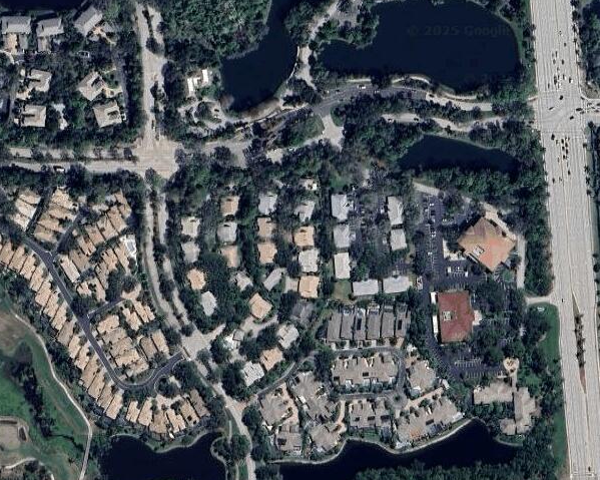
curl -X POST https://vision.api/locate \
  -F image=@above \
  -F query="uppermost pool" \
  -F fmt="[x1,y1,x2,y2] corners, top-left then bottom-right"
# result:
[124,237,142,262]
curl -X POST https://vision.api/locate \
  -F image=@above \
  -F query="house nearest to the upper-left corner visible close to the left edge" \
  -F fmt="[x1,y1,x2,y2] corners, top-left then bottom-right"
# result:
[2,16,31,49]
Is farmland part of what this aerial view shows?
No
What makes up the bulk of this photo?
trees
